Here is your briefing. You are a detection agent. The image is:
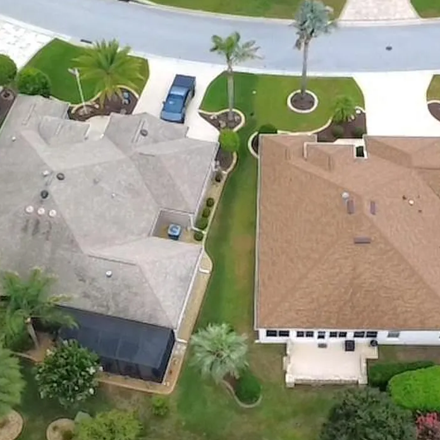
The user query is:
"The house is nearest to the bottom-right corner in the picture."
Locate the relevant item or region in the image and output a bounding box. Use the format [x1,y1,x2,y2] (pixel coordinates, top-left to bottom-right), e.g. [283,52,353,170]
[253,135,440,343]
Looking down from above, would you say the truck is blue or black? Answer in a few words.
blue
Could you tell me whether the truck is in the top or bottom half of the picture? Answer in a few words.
top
